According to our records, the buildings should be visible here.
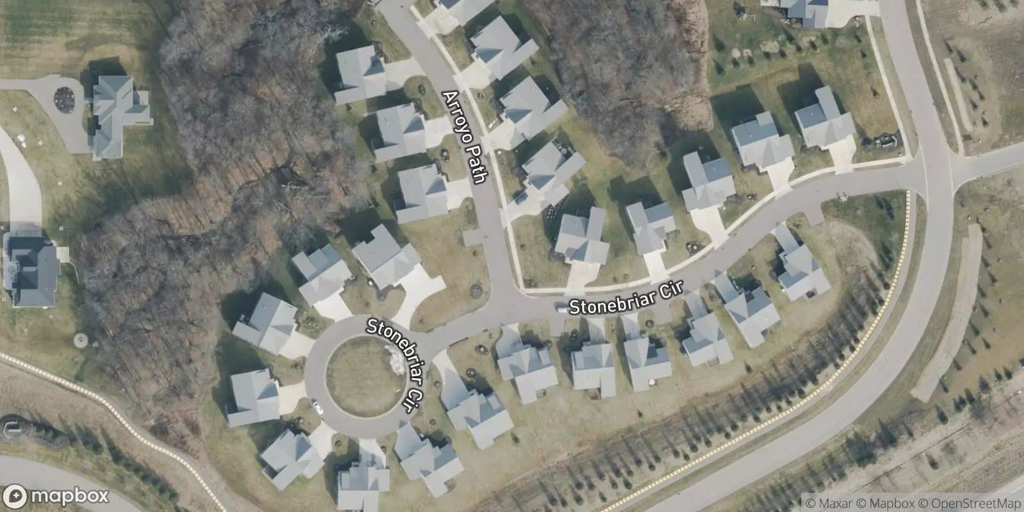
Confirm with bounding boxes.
[623,200,677,257]
[776,244,832,300]
[681,312,733,368]
[729,110,797,171]
[232,292,297,354]
[556,205,612,265]
[337,464,389,512]
[326,46,387,105]
[351,223,422,290]
[261,430,335,499]
[221,368,281,427]
[520,142,591,219]
[680,153,738,212]
[286,244,349,304]
[366,103,427,162]
[401,444,468,505]
[446,391,513,453]
[387,164,448,222]
[498,76,568,140]
[92,76,151,159]
[791,85,857,151]
[622,334,672,392]
[777,0,833,28]
[722,287,780,348]
[434,0,495,26]
[495,343,559,404]
[570,344,616,397]
[9,238,60,307]
[469,16,539,80]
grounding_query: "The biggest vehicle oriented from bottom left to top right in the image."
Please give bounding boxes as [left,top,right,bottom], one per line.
[514,190,529,204]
